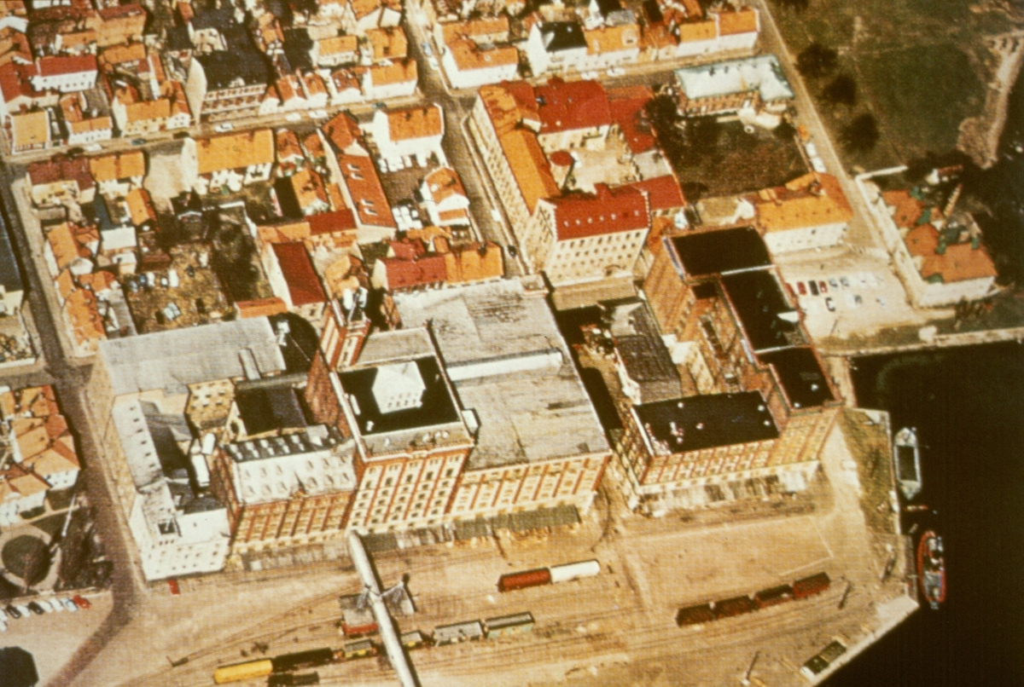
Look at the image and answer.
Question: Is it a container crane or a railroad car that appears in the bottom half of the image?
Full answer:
The one visible in the bottom half of the image is a railroad car.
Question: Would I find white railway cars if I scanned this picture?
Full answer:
Yes, a white railway car is visible in the scene.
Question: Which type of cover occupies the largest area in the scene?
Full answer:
For the most part, this view shows buildings.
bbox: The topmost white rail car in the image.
[550,553,603,579]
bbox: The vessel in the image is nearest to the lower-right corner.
[918,528,947,612]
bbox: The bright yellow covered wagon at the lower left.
[213,654,275,683]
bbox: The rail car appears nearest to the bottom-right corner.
[792,570,834,595]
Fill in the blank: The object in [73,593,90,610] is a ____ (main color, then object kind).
red car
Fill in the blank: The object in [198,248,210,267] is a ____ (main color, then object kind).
white vehicle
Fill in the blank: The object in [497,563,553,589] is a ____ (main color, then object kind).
red rail car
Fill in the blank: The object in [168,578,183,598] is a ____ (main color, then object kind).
red vehicle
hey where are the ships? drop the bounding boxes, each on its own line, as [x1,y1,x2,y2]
[892,427,921,505]
[918,528,947,612]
